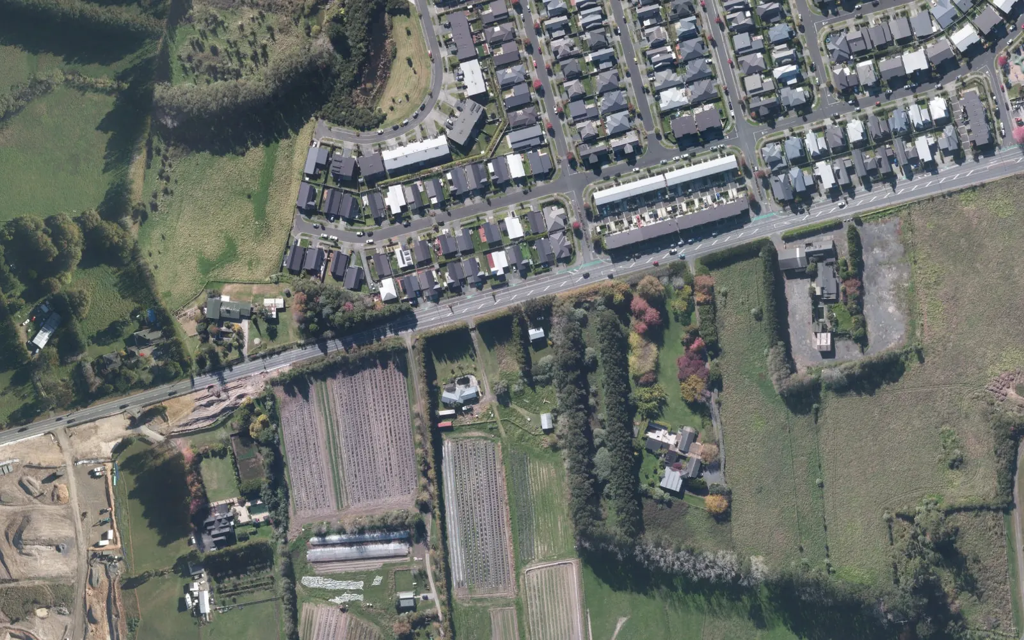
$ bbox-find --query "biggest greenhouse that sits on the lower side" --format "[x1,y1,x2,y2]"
[307,541,409,564]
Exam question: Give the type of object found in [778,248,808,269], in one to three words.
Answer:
building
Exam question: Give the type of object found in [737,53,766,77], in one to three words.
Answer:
house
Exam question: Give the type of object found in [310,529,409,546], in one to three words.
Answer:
greenhouse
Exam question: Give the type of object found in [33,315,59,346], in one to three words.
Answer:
shed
